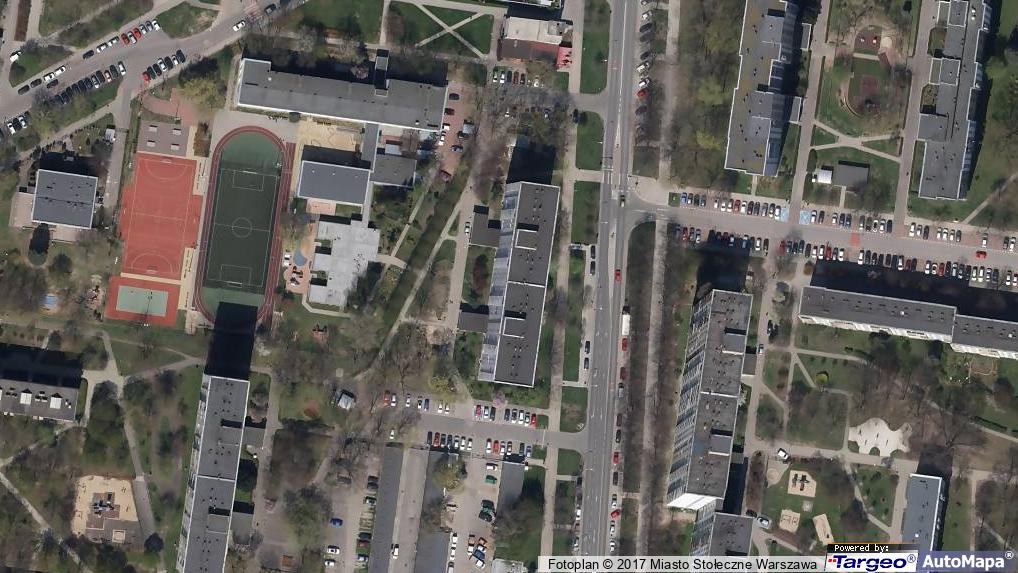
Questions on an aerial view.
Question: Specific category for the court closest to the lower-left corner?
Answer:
basketball court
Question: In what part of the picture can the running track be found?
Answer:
left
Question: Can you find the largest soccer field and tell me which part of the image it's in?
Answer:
left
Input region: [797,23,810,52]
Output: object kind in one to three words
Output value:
building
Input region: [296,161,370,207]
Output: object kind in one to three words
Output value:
building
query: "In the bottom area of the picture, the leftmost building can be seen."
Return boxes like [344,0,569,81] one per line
[0,378,79,422]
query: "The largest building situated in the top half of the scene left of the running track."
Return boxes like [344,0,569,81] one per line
[32,169,97,231]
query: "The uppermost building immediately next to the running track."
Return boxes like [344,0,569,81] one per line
[237,59,447,134]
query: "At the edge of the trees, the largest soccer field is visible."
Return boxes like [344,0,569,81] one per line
[204,137,280,319]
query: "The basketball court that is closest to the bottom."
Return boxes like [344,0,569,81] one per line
[104,277,181,326]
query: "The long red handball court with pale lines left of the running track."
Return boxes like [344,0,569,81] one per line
[117,151,204,281]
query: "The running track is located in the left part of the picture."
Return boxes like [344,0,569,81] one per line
[193,126,296,329]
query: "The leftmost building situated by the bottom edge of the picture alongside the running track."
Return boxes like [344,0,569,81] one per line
[175,376,250,573]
